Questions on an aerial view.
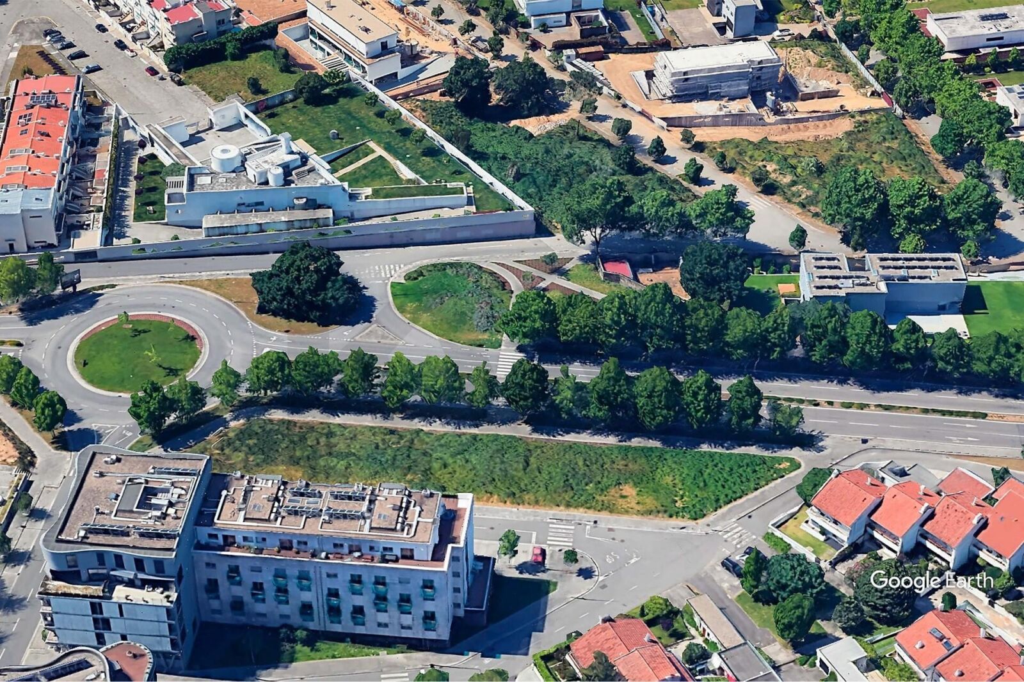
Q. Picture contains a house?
Yes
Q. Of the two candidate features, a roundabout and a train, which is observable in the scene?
roundabout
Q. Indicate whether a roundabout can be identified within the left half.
Yes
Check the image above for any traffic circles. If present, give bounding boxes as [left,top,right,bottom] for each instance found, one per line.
[15,286,258,430]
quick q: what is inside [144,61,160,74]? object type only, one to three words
vehicle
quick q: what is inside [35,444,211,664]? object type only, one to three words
building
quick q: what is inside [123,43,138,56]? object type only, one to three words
vehicle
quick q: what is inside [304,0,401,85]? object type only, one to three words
house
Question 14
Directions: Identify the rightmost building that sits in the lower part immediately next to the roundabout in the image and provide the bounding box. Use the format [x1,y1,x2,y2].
[192,464,474,644]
